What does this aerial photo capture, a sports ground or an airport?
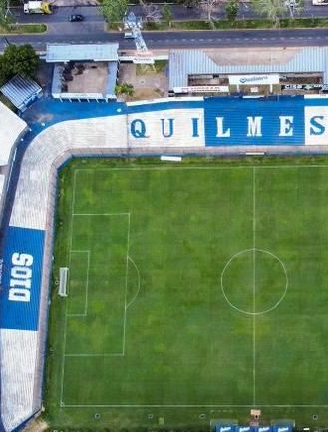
sports ground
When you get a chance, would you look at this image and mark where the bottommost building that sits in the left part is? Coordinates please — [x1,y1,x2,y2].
[46,43,123,104]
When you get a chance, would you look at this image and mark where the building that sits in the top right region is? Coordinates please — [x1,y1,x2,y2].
[170,46,328,97]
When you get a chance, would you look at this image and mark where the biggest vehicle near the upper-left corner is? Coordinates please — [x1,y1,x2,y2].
[23,1,52,14]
